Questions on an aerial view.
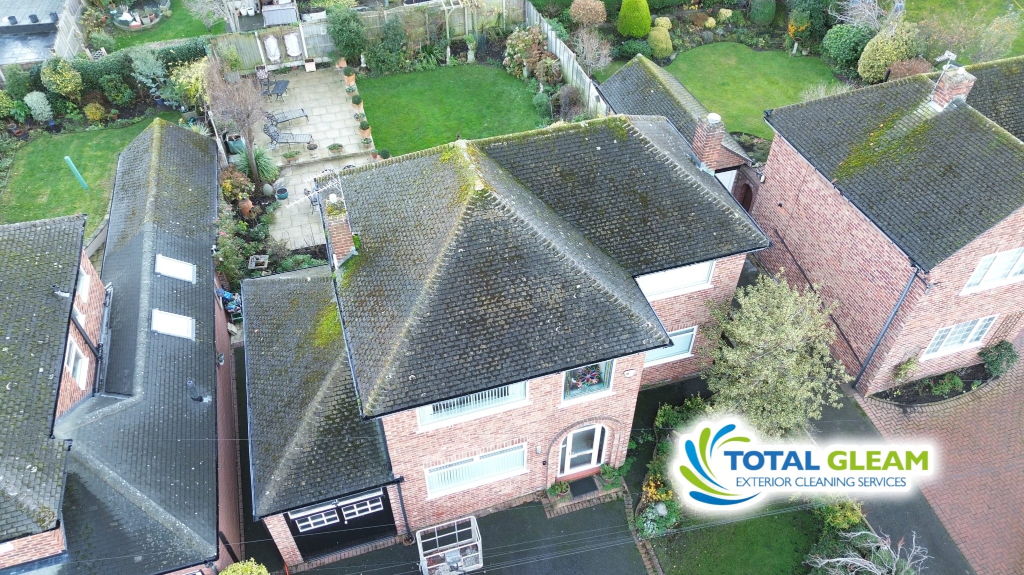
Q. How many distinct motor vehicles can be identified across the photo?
none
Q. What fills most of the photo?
buildings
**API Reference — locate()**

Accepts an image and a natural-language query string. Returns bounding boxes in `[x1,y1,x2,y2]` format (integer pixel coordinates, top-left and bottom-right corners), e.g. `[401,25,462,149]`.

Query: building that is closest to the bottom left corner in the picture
[0,101,240,575]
